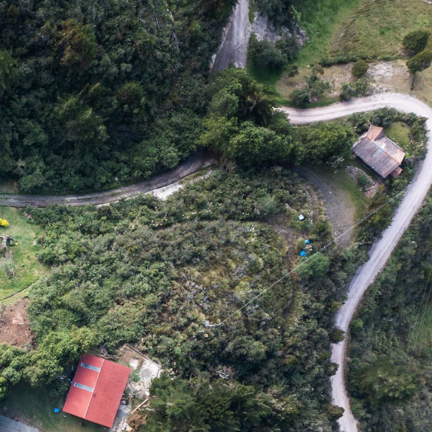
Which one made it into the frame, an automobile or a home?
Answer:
home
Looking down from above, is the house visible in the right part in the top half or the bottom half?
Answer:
top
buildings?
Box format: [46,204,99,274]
[350,125,404,178]
[63,355,131,428]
